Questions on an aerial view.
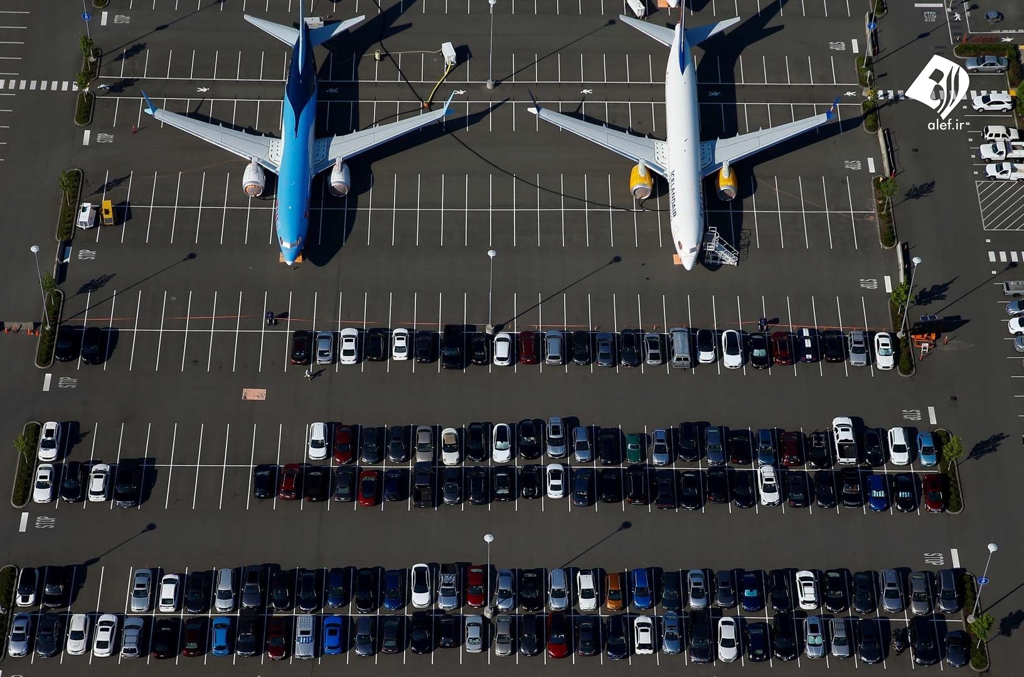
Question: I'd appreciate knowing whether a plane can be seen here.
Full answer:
Yes, the image includes a plane.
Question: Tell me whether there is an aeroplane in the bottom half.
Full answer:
No, looking in the bottom half, there is no aeroplane.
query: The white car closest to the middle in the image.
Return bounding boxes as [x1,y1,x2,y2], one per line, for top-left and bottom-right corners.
[492,333,511,364]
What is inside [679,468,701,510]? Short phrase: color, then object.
black car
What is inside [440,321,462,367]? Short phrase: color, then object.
black truck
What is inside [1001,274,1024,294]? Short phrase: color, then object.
gray vehicle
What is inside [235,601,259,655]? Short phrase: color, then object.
black truck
